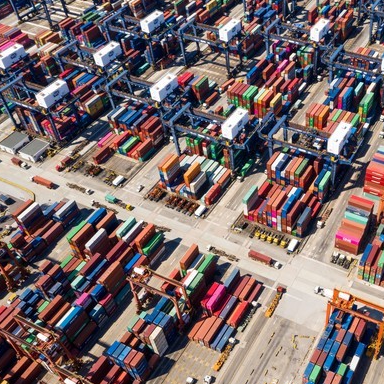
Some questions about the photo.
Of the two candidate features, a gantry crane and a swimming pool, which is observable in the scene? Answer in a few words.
gantry crane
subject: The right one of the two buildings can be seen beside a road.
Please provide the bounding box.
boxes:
[18,138,52,161]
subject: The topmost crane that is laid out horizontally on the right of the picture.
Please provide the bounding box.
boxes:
[225,0,291,28]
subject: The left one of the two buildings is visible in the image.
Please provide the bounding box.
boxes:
[0,131,31,153]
